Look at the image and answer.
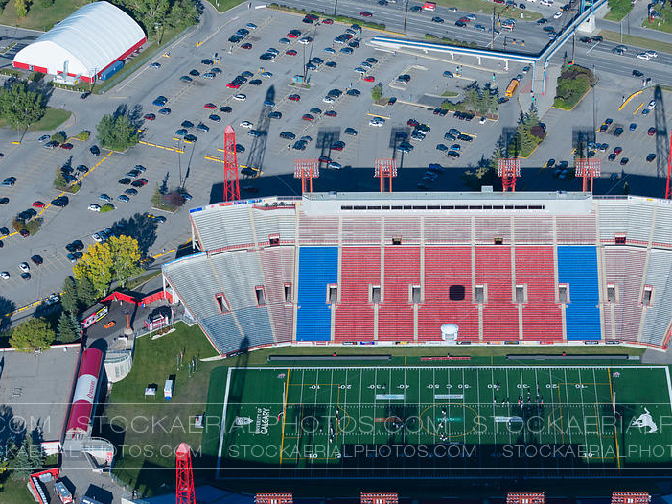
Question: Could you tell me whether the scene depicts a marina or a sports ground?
sports ground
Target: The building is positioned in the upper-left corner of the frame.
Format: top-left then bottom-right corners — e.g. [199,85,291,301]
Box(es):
[13,0,146,82]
